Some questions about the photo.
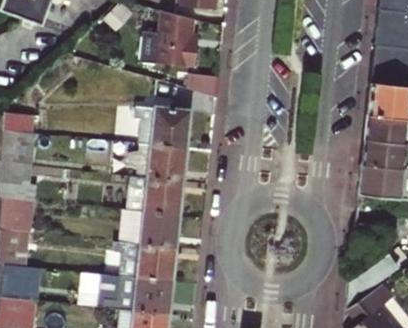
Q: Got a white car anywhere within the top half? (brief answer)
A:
Yes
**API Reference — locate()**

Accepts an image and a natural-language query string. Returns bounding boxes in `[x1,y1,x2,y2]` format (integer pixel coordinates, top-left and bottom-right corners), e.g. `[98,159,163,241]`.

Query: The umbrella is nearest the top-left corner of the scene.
[112,142,126,156]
